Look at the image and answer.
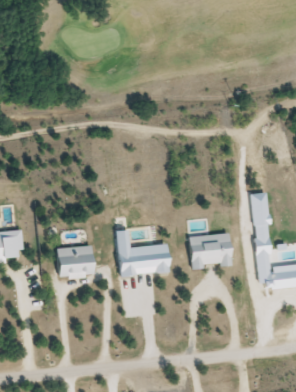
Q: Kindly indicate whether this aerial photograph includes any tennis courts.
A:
No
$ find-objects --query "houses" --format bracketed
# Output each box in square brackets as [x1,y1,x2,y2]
[56,245,96,280]
[250,193,296,290]
[0,230,24,262]
[190,233,234,270]
[116,230,172,278]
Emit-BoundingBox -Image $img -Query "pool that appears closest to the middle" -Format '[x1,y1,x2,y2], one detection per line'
[126,226,152,242]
